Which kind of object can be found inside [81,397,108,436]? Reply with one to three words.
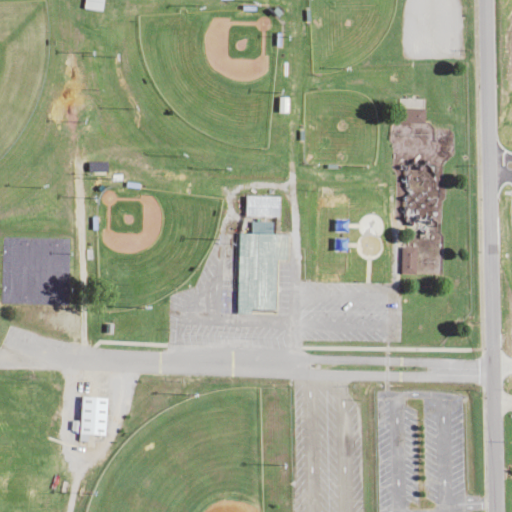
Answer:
building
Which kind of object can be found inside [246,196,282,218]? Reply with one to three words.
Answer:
shed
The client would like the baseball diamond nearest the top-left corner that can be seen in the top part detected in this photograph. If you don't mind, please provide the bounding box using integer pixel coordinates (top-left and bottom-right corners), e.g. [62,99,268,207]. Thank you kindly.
[0,0,50,160]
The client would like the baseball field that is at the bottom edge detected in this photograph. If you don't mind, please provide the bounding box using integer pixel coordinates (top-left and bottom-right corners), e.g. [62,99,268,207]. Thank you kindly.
[88,388,263,512]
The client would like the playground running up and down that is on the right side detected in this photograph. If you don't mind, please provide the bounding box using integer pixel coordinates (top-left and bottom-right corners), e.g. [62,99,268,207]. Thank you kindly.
[401,154,442,239]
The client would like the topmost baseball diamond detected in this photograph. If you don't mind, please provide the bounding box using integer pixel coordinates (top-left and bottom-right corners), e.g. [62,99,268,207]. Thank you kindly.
[310,0,397,74]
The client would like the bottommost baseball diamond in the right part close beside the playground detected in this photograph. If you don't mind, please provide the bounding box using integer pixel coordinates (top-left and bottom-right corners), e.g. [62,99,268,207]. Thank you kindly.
[304,90,378,166]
